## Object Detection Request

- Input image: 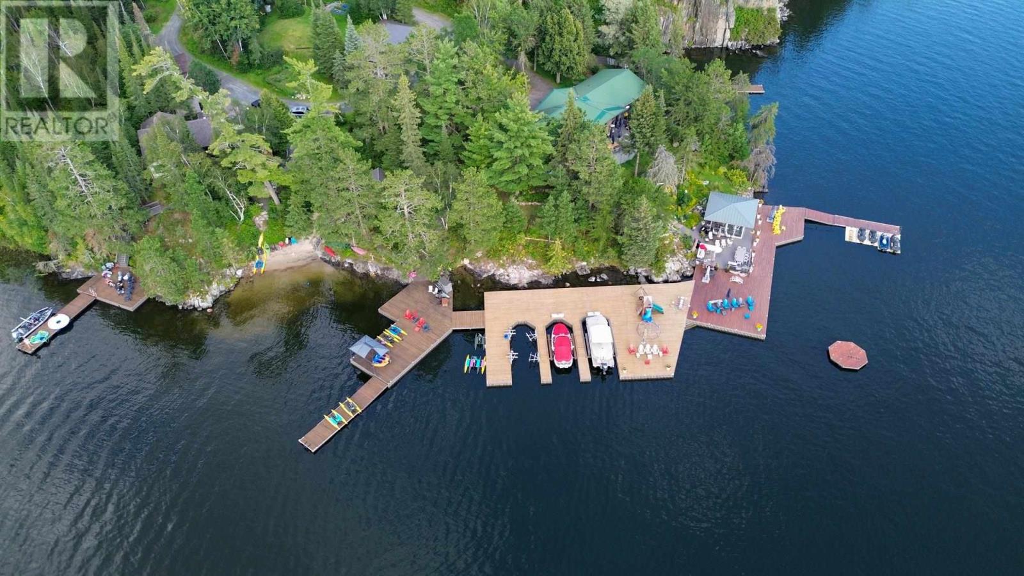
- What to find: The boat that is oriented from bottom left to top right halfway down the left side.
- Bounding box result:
[10,308,51,337]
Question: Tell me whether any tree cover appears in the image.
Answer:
Yes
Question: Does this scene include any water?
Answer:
Yes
